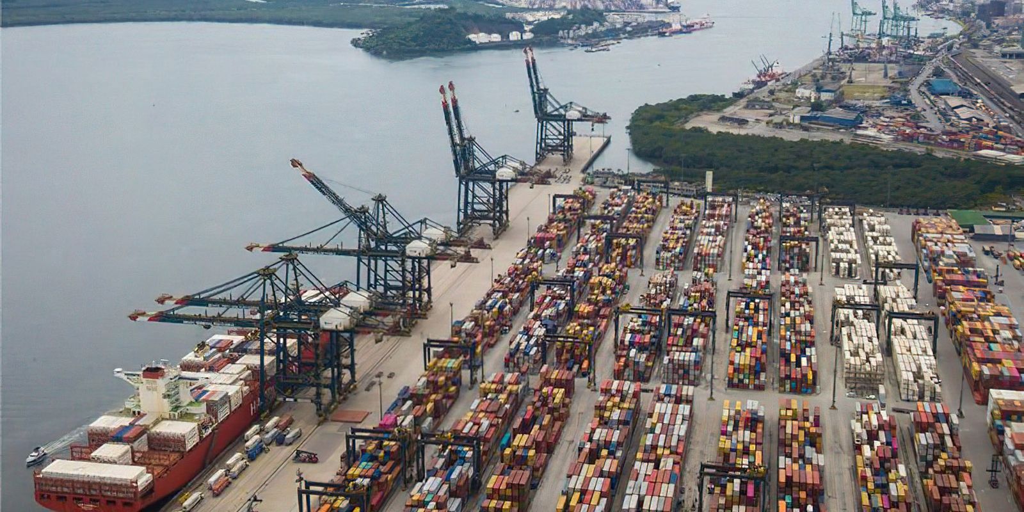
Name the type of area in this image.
port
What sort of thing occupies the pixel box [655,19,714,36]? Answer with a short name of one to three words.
ship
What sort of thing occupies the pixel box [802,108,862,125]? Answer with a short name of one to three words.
building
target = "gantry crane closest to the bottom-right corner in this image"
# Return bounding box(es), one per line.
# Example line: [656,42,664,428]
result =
[883,309,939,351]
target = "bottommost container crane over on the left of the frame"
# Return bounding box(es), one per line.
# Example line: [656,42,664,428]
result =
[298,476,372,512]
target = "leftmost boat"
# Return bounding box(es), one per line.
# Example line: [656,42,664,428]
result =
[26,443,50,462]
